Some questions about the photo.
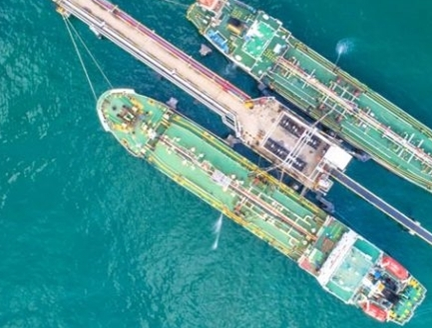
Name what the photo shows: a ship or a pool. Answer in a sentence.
This aerial view contains a ship.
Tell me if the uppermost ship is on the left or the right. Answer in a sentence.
The uppermost ship appears in the right half of the scene.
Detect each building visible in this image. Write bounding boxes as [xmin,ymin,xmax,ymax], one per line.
[318,175,334,192]
[327,145,358,172]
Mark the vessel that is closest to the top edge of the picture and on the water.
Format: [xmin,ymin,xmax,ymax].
[186,0,432,194]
